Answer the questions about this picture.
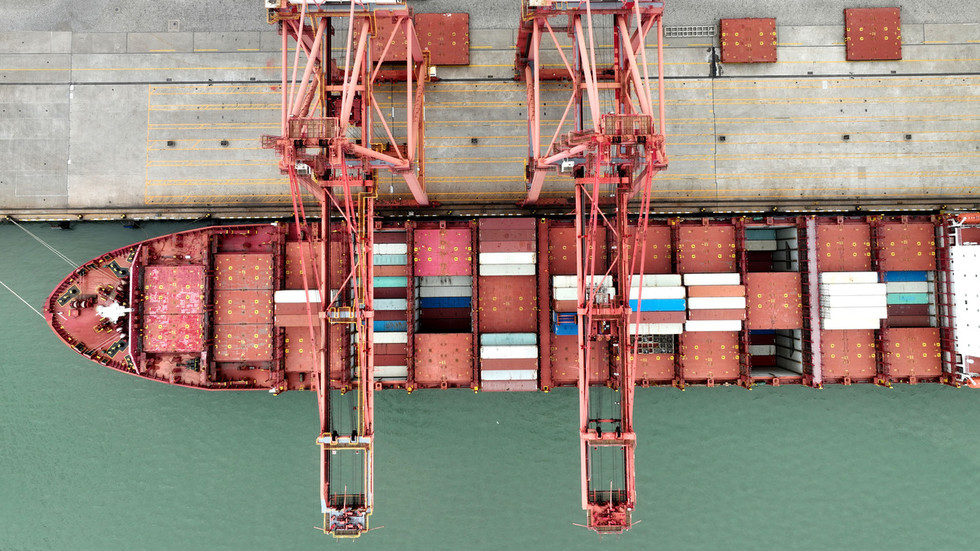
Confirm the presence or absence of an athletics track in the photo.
No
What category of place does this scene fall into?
port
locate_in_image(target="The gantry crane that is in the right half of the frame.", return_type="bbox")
[505,0,674,540]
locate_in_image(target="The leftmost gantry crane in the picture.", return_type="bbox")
[259,0,449,542]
